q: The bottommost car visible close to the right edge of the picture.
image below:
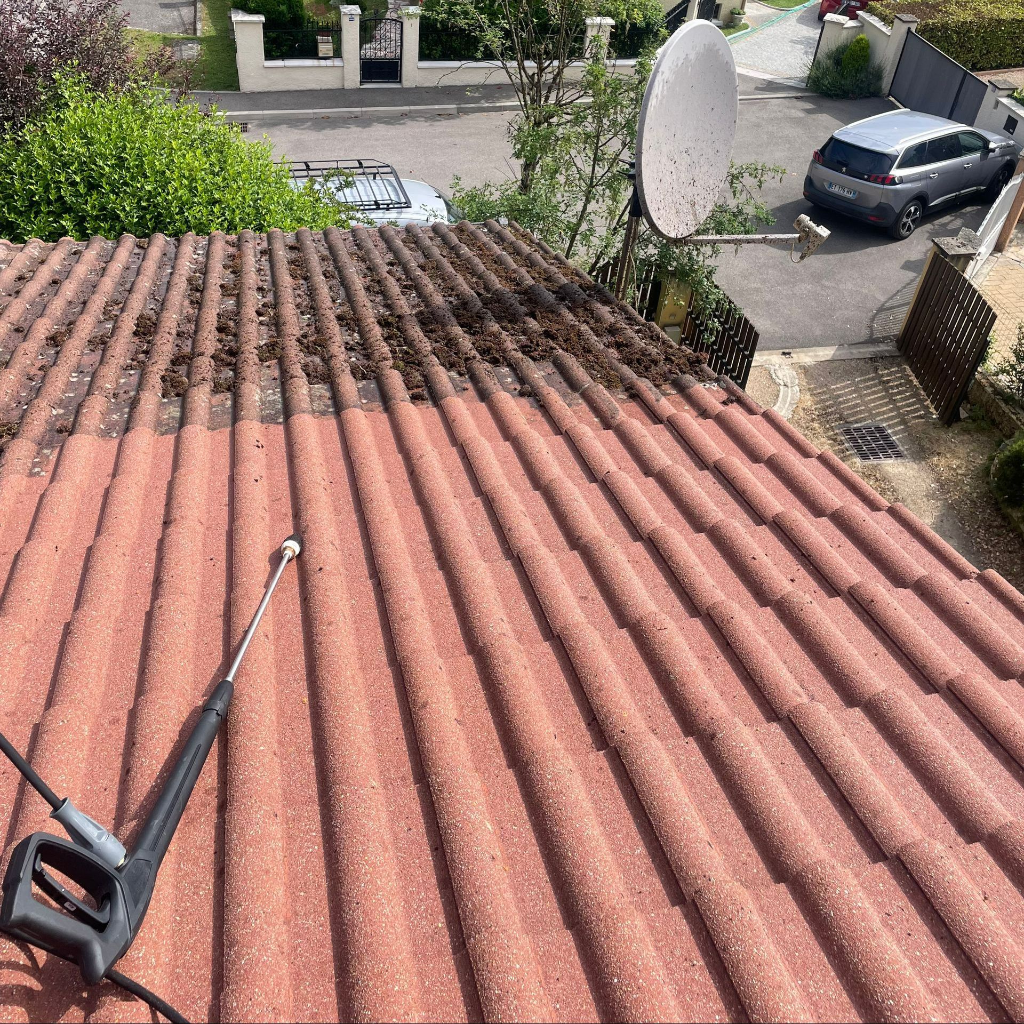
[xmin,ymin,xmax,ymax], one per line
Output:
[795,102,1020,238]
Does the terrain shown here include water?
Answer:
No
